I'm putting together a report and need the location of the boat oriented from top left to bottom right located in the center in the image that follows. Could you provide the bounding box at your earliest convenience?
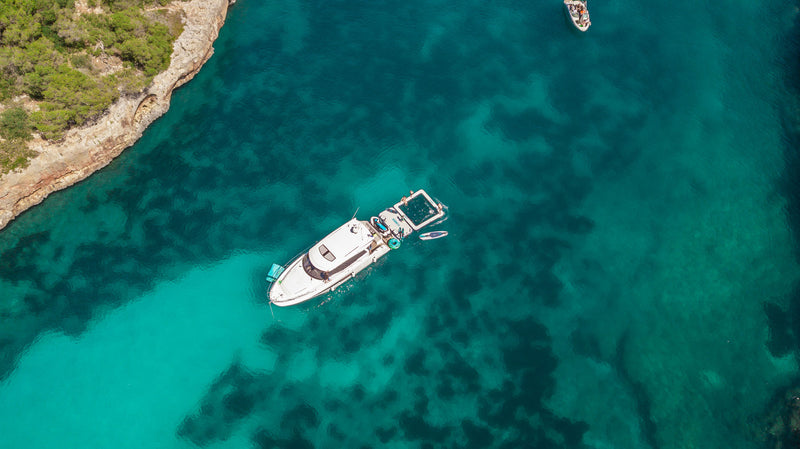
[374,217,395,239]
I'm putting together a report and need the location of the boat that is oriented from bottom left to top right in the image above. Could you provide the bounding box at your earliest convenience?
[264,208,402,305]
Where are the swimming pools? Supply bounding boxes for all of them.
[395,191,443,230]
